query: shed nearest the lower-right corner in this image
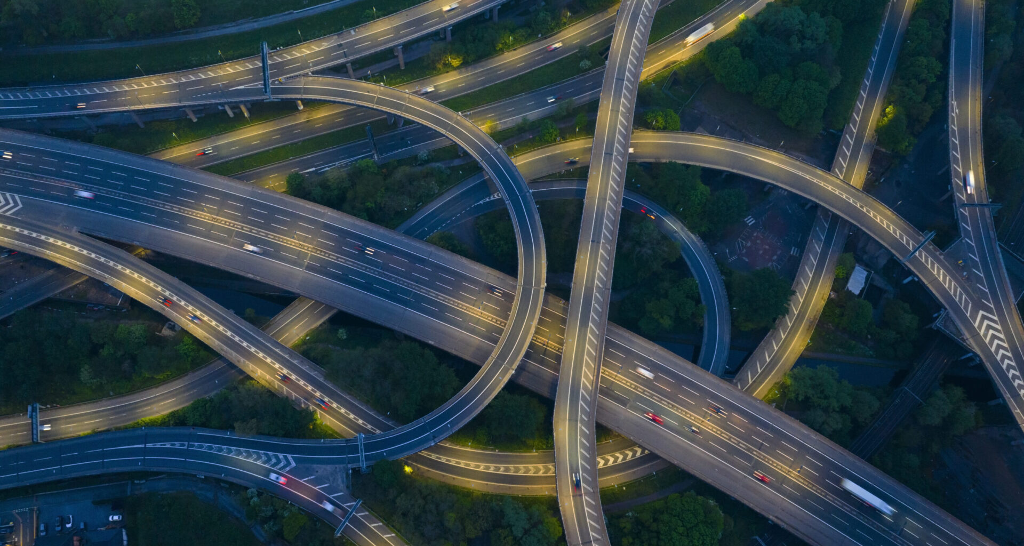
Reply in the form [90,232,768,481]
[844,263,874,299]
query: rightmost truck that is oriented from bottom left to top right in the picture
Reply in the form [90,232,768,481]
[688,22,714,43]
